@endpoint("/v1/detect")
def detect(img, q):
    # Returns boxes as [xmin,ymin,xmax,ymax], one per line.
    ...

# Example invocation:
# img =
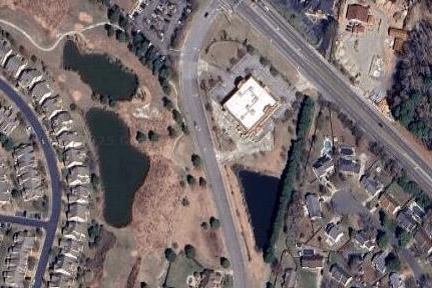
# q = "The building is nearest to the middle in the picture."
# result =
[224,75,276,129]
